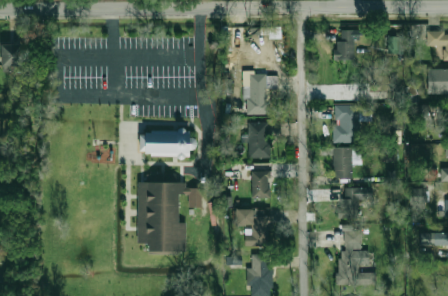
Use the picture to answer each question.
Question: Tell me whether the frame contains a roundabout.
No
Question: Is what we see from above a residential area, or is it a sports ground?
residential area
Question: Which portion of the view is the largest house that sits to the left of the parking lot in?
top left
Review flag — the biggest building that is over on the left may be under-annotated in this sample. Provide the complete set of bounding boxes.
[138,184,186,254]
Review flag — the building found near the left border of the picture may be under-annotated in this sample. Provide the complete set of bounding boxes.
[0,45,22,70]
